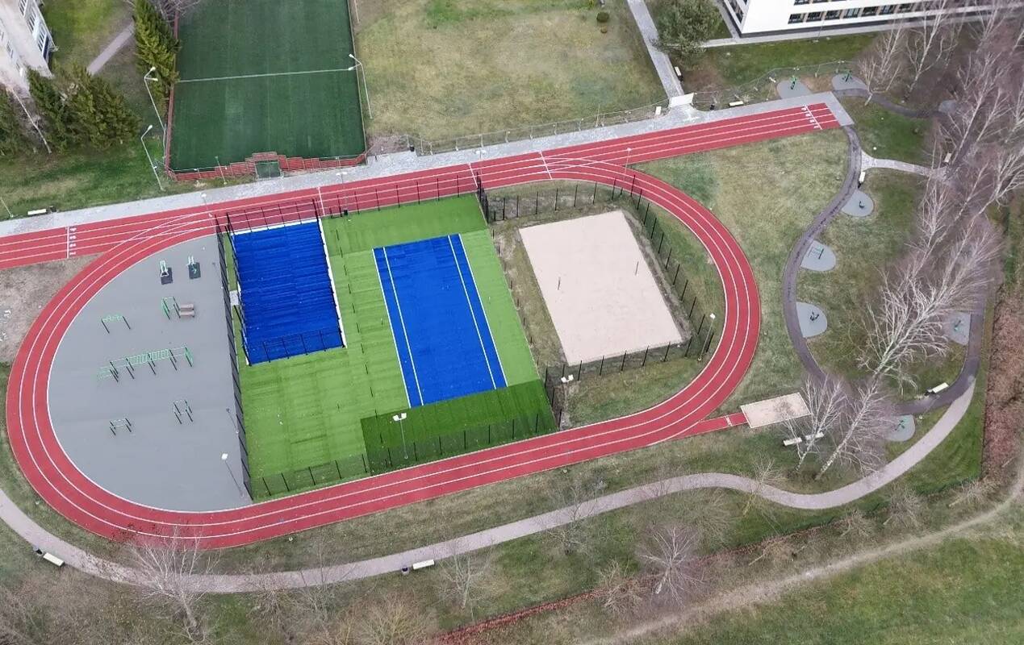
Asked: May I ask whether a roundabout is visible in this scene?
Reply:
No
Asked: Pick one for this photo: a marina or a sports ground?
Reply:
sports ground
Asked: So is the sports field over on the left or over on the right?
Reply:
left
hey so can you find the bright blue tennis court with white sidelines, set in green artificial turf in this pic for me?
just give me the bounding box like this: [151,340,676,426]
[220,192,557,502]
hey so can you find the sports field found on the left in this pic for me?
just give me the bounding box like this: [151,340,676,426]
[167,0,365,173]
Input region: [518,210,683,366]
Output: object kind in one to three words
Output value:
sports court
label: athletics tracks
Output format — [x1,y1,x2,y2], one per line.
[0,103,842,552]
